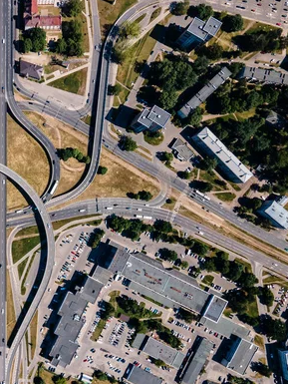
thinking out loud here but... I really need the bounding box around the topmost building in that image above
[23,0,62,32]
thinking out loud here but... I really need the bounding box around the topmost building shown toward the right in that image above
[176,16,222,51]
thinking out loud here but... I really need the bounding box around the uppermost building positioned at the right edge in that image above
[235,66,288,89]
